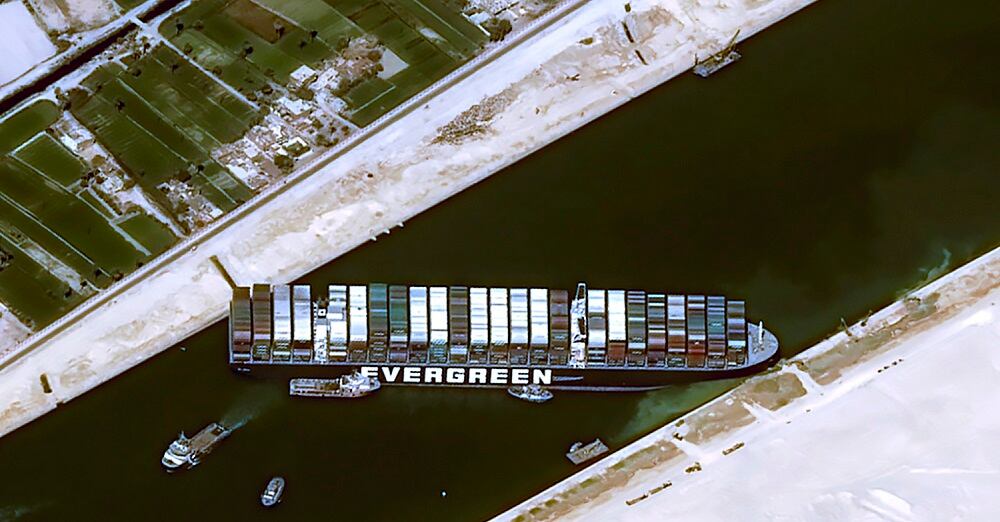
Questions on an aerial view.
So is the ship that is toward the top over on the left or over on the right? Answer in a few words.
right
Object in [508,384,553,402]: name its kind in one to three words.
boat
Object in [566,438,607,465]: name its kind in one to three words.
ship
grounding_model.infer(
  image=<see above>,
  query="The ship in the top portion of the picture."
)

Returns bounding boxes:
[694,29,744,80]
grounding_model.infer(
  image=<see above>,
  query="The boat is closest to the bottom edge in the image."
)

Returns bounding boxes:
[262,480,285,505]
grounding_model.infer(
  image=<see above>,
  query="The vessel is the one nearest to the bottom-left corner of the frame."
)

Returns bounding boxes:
[164,422,229,466]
